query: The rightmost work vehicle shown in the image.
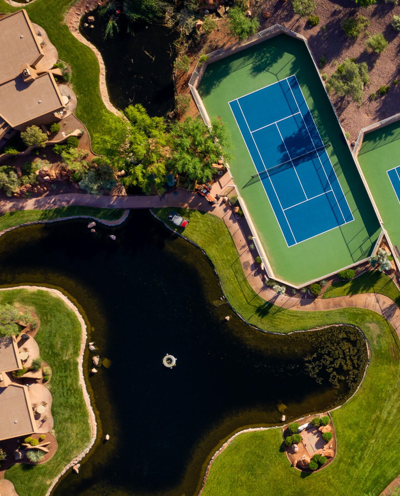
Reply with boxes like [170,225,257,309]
[196,183,217,203]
